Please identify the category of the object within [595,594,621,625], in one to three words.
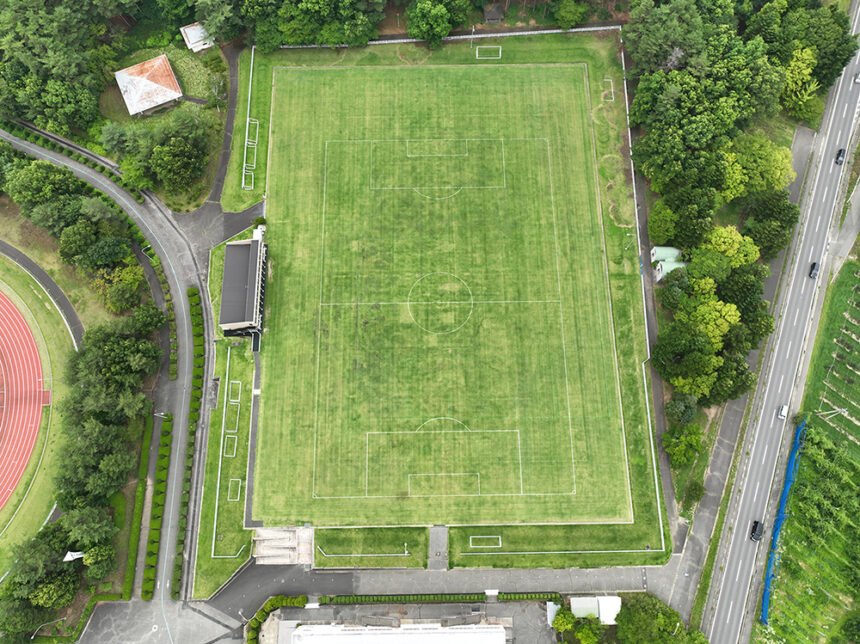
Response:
shed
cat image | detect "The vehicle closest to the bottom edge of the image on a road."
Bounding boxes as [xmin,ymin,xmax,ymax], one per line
[749,521,763,542]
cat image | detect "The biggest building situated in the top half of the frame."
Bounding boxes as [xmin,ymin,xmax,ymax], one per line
[115,55,182,118]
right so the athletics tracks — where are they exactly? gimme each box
[0,240,88,573]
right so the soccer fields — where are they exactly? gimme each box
[246,64,634,527]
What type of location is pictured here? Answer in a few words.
sports ground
